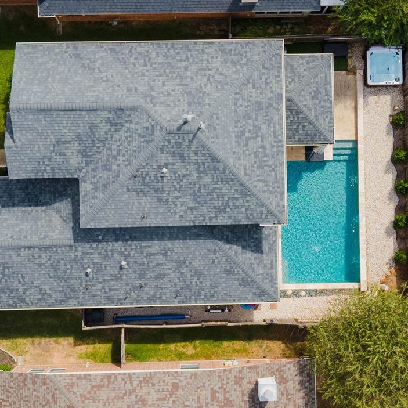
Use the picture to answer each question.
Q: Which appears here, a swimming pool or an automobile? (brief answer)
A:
swimming pool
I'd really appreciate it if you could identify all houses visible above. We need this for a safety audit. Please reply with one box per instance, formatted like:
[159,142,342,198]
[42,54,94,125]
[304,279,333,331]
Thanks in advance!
[0,358,318,408]
[0,0,323,27]
[0,37,336,310]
